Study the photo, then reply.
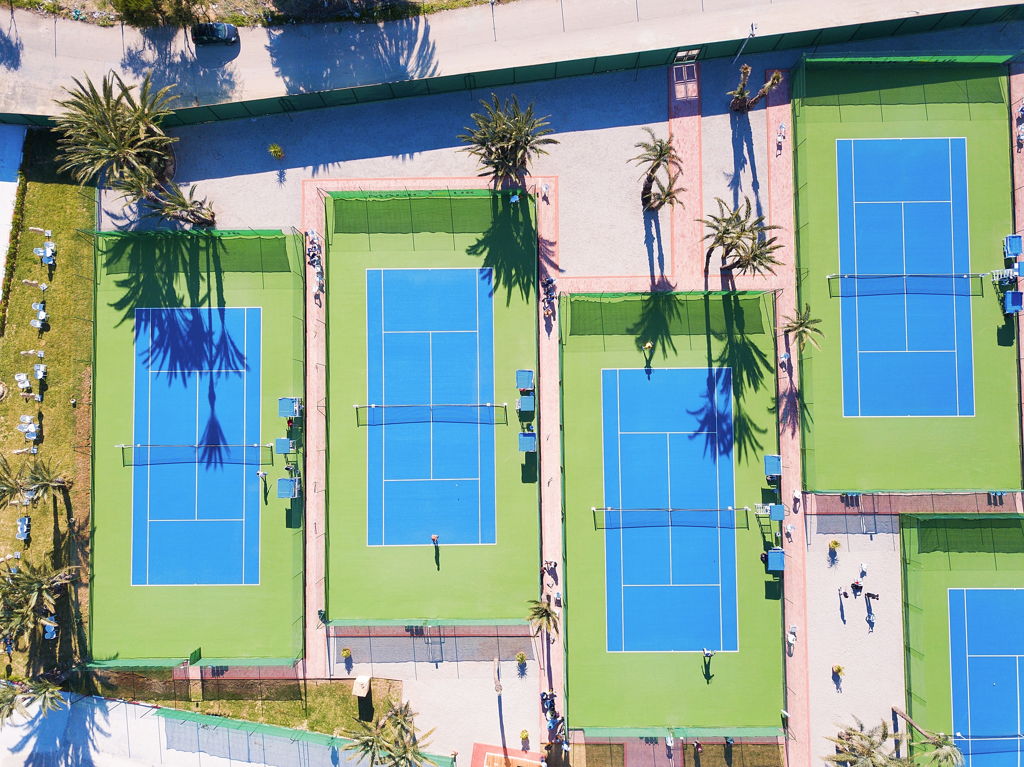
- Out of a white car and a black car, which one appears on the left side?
black car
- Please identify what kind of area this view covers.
sports ground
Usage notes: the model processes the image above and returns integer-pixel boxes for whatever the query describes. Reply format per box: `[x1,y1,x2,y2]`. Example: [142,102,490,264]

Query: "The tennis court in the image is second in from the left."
[324,196,542,622]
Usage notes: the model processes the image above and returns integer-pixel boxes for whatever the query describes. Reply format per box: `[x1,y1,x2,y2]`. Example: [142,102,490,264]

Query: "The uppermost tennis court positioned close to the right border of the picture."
[791,69,1024,490]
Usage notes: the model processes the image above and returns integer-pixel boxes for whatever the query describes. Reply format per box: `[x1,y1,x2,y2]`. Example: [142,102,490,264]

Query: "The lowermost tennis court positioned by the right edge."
[897,512,1024,767]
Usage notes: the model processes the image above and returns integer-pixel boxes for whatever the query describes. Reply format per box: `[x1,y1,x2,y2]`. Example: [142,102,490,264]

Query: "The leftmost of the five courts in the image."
[88,236,306,660]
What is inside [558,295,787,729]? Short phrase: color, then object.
green tennis court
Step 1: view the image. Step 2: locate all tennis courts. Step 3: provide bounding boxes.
[558,295,787,729]
[324,196,542,622]
[897,512,1024,767]
[88,236,306,660]
[791,69,1024,490]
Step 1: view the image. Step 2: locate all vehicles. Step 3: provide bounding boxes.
[191,19,238,47]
